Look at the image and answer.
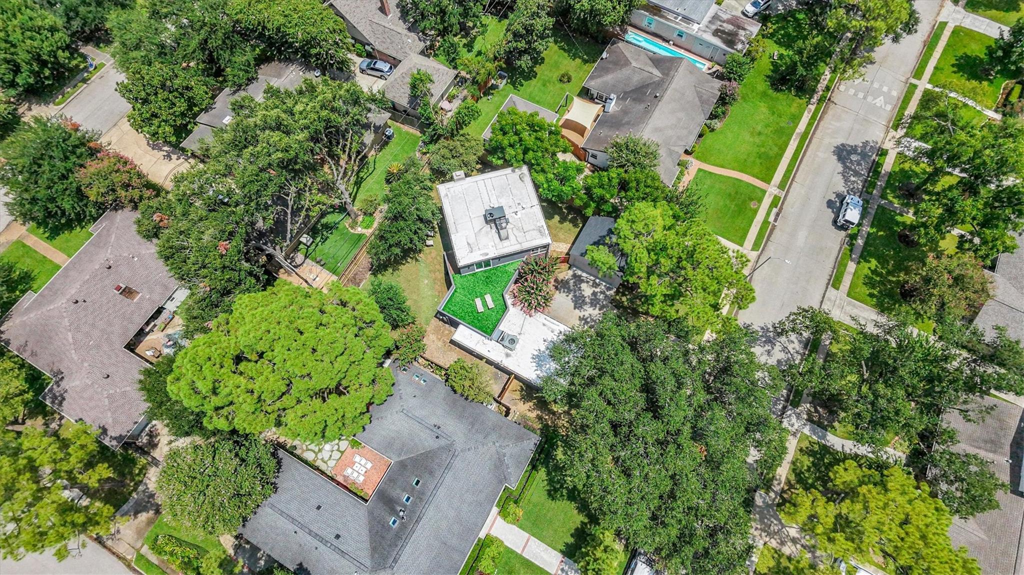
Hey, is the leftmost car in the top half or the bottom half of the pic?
top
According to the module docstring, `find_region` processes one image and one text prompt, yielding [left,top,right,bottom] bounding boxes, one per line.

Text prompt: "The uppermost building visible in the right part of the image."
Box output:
[625,0,762,65]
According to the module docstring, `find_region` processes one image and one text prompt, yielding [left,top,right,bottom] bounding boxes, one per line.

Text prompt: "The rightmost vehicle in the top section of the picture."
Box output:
[834,195,861,227]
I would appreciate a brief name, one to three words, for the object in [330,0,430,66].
house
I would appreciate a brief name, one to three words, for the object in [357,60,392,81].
car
